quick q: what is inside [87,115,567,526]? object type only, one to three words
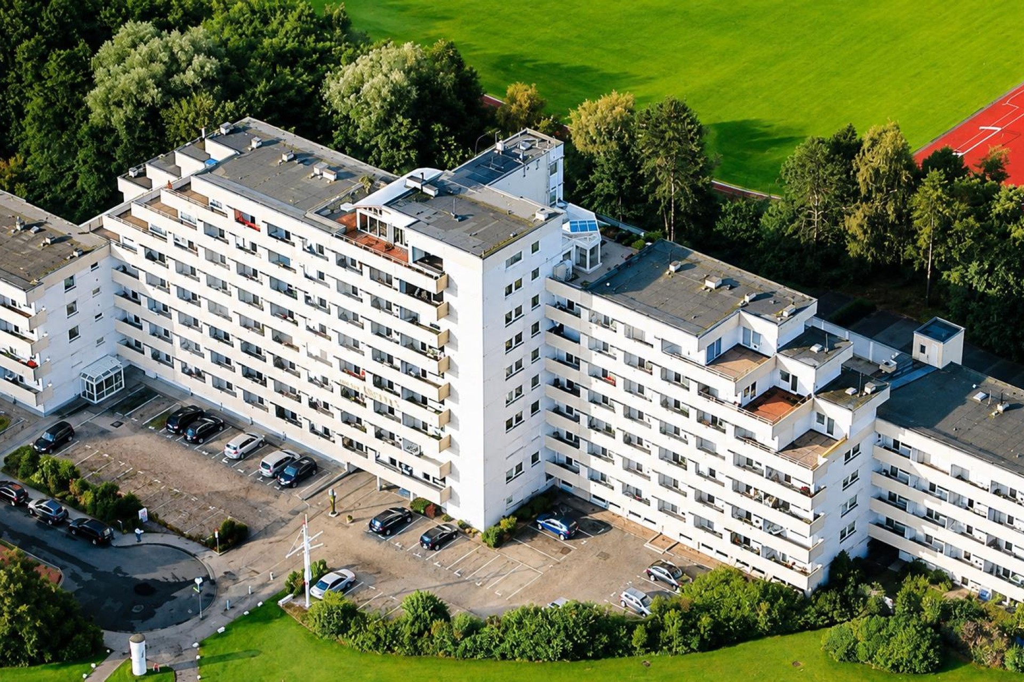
building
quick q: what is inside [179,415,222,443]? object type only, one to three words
car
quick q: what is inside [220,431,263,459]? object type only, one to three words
car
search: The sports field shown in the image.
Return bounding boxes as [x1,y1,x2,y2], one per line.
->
[251,0,1024,208]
